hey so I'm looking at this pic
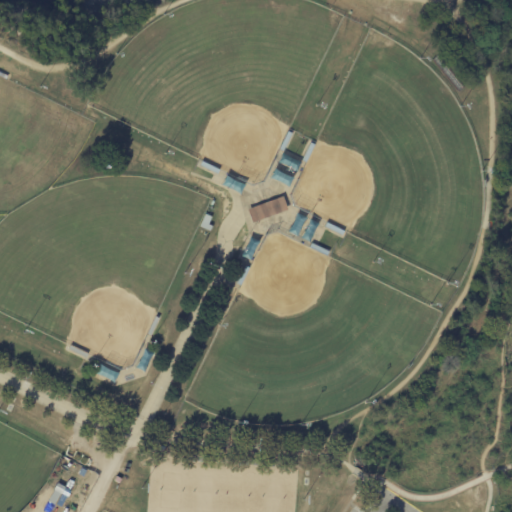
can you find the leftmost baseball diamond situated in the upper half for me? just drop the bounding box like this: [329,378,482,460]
[0,76,94,213]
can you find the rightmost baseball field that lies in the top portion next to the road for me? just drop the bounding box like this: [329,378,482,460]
[292,29,484,284]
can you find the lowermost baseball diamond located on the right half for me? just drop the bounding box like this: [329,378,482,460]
[188,228,440,424]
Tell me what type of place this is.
sports ground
